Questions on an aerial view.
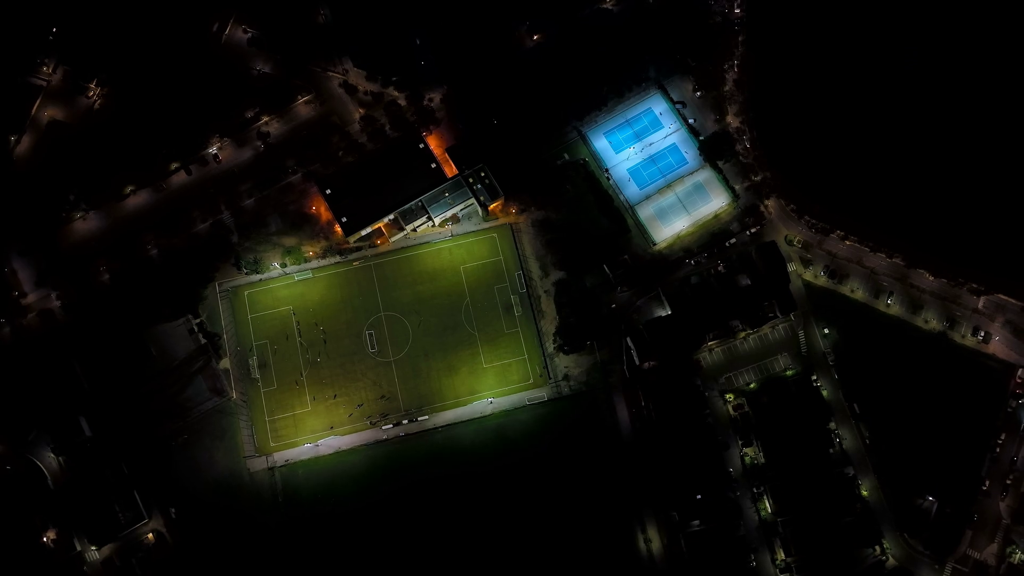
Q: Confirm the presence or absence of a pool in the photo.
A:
No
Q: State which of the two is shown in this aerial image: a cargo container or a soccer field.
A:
soccer field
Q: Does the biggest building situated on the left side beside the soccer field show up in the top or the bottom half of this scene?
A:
top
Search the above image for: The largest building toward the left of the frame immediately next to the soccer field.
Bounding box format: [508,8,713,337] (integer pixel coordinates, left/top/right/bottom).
[306,122,451,243]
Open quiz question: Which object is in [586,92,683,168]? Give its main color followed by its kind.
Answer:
blue tennis court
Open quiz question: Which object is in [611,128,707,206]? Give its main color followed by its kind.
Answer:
blue tennis court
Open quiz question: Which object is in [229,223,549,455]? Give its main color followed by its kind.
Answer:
green soccer field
